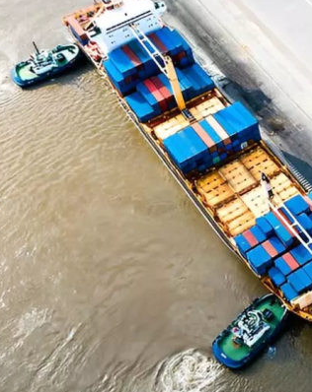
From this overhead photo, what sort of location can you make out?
port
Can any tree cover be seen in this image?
No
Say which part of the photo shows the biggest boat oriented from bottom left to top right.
bottom right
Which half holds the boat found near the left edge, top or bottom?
top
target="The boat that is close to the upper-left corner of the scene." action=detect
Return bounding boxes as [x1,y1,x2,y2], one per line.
[2,42,81,88]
